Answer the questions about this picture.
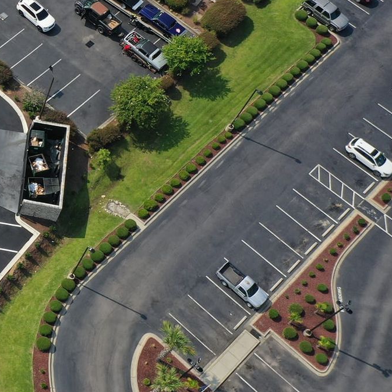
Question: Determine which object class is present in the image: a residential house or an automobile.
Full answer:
I can see an automobile in this picture.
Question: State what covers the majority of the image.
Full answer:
The scene is dominated by paved ground.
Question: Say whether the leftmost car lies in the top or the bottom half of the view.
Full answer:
It is in the top half that the leftmost car appears.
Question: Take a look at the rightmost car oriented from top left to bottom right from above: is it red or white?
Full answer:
In this view, the rightmost car oriented from top left to bottom right is white.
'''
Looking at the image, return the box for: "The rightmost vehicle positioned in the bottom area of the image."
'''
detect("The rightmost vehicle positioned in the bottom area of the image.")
[212,259,272,313]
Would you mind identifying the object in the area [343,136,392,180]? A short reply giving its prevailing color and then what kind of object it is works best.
white car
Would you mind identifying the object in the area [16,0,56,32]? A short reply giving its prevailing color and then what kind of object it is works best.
white car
